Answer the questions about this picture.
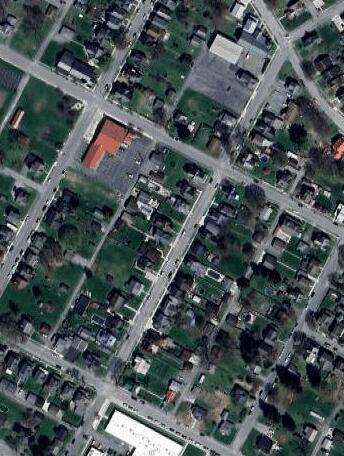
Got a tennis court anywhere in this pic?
No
